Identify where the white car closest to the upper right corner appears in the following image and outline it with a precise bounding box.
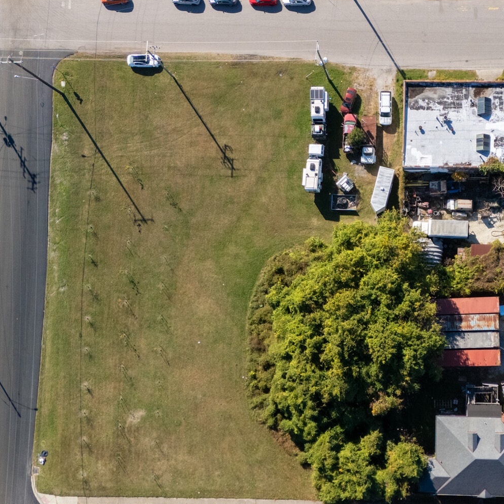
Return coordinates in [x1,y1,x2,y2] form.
[378,91,393,126]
